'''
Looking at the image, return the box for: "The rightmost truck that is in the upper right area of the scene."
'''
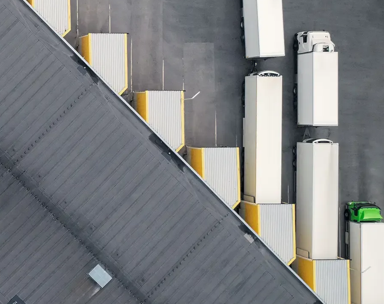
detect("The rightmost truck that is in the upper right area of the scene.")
[290,31,338,130]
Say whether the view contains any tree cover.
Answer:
No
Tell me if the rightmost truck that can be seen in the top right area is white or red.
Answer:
white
